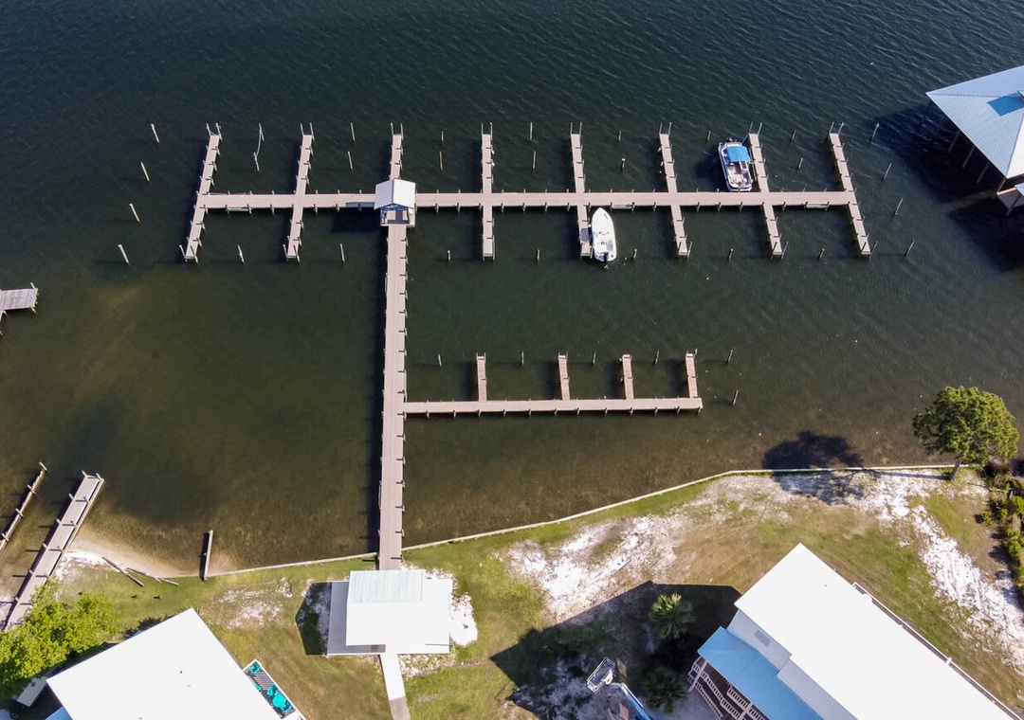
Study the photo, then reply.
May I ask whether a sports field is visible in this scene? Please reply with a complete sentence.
No, no sports field can be seen from above.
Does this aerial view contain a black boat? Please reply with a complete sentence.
No, this view has no black boat in it.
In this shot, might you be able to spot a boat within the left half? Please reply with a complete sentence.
No, I see no boat within the left half.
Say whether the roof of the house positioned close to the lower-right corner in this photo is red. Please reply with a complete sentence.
No, the color of the roof of the house positioned close to the lower-right corner is white.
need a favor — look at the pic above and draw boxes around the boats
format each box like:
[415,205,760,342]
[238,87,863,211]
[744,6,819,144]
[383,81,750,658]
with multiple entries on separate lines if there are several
[718,139,752,191]
[592,206,618,264]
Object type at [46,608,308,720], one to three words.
house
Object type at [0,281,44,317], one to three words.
pier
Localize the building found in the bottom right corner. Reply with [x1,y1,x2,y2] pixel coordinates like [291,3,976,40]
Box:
[685,543,1024,720]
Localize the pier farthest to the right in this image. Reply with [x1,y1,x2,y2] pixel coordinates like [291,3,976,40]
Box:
[180,121,877,571]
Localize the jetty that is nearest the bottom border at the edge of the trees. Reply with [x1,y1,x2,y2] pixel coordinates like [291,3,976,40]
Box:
[13,471,105,622]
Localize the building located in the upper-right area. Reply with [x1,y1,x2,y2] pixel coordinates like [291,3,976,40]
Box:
[923,62,1024,219]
